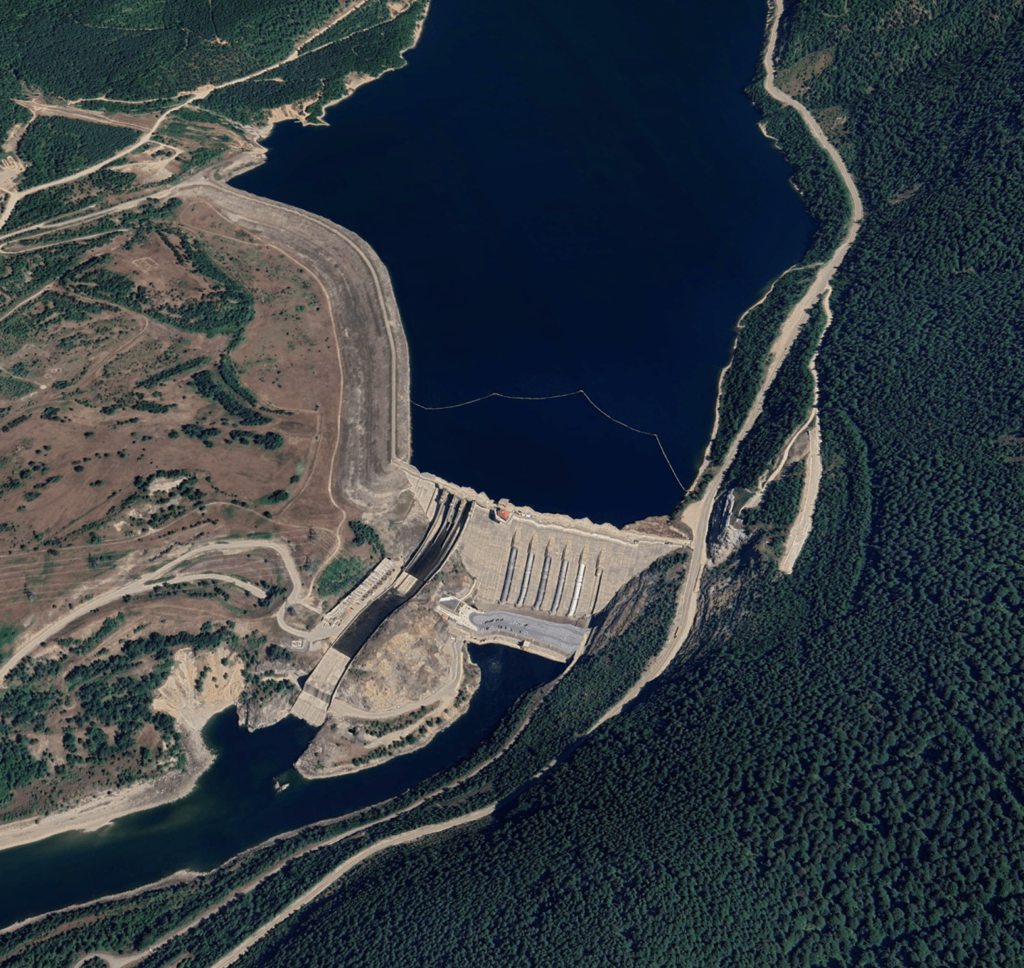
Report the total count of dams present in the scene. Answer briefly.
2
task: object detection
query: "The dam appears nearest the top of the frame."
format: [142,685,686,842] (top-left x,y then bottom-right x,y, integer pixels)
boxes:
[193,177,411,510]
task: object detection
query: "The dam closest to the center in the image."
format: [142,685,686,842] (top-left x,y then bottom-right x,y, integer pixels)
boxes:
[393,459,692,629]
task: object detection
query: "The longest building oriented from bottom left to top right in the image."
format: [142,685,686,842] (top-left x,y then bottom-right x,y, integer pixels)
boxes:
[325,557,393,625]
